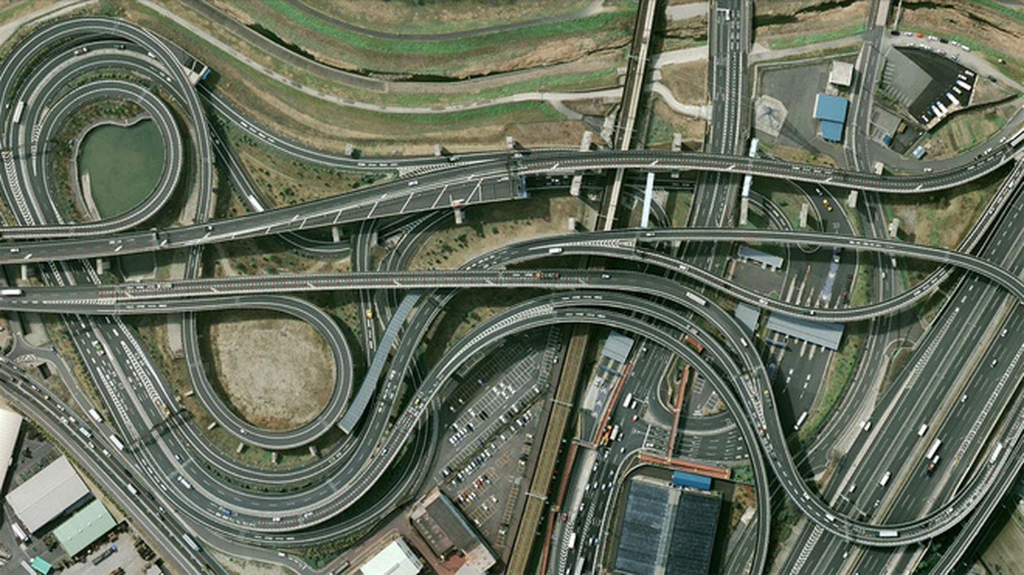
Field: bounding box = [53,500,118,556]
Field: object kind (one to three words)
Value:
building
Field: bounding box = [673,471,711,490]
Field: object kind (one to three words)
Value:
building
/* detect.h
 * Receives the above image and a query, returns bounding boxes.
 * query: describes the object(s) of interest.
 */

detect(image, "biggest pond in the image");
[78,119,170,221]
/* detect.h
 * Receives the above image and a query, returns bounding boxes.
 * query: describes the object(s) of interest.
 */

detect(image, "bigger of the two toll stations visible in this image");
[762,242,857,440]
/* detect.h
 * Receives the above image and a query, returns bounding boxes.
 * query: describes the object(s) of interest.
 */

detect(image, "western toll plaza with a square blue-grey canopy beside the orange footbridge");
[585,331,635,425]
